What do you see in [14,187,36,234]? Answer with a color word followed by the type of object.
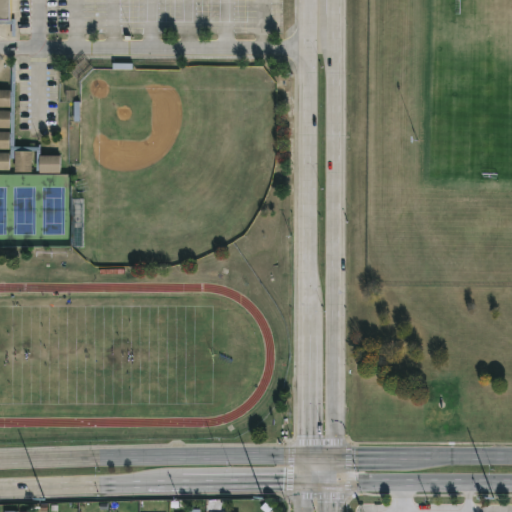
blue tennis court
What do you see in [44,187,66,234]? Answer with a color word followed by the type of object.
blue tennis court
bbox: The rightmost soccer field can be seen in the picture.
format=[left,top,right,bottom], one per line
[432,0,512,184]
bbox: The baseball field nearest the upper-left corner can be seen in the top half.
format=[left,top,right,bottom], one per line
[82,66,276,267]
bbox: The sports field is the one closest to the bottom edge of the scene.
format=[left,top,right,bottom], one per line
[0,306,214,404]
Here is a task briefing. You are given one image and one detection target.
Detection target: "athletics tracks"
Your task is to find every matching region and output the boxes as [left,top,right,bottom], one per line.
[0,282,276,428]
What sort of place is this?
sports ground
